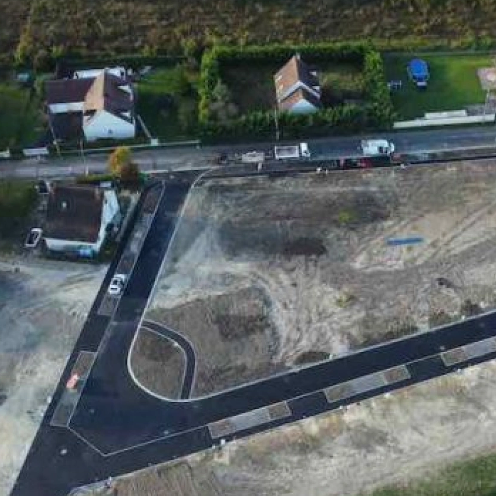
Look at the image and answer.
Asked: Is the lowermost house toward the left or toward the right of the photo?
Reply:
left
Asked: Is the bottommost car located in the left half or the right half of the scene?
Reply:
left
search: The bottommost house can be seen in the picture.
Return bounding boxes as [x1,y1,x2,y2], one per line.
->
[41,180,126,259]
